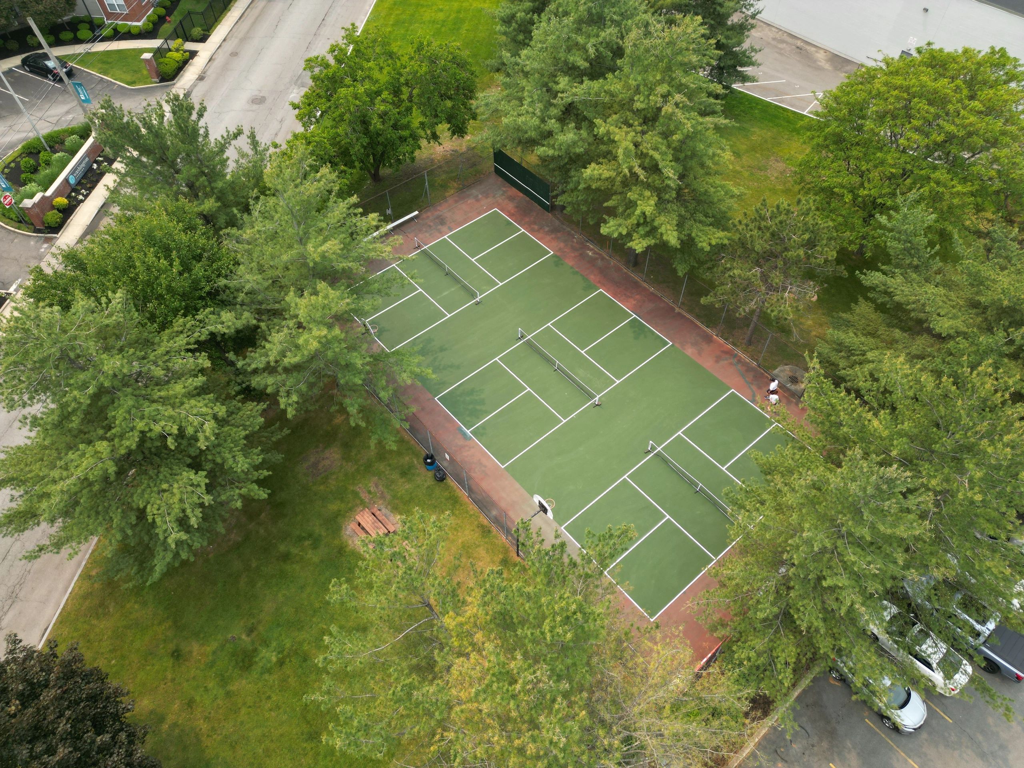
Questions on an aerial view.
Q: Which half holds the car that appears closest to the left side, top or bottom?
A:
top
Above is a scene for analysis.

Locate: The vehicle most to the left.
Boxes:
[22,50,69,79]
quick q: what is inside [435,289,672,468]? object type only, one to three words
sports court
